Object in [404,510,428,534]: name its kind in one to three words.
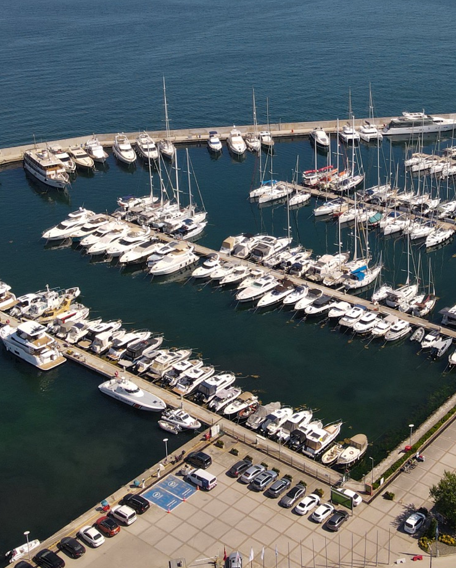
car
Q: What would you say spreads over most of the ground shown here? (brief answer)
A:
water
